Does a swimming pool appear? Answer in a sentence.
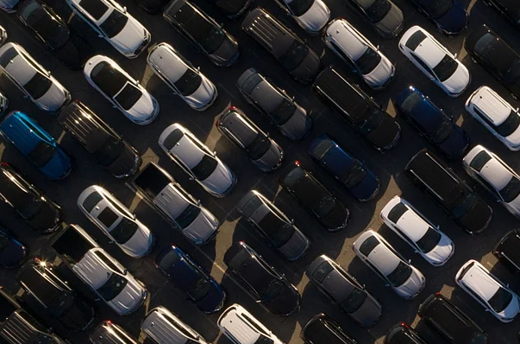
No, I find no swimming pool anywhere in the image.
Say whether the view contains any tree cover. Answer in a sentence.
No, the scene doesn't show any tree cover.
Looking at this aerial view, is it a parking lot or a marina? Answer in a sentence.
This looks like a parking lot.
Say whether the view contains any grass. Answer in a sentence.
No, the scene doesn't show any grass.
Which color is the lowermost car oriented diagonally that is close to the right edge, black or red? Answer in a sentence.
From above, the lowermost car oriented diagonally that is close to the right edge appears black.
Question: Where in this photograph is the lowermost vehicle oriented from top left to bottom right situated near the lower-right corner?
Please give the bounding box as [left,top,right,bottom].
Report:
[416,291,498,344]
